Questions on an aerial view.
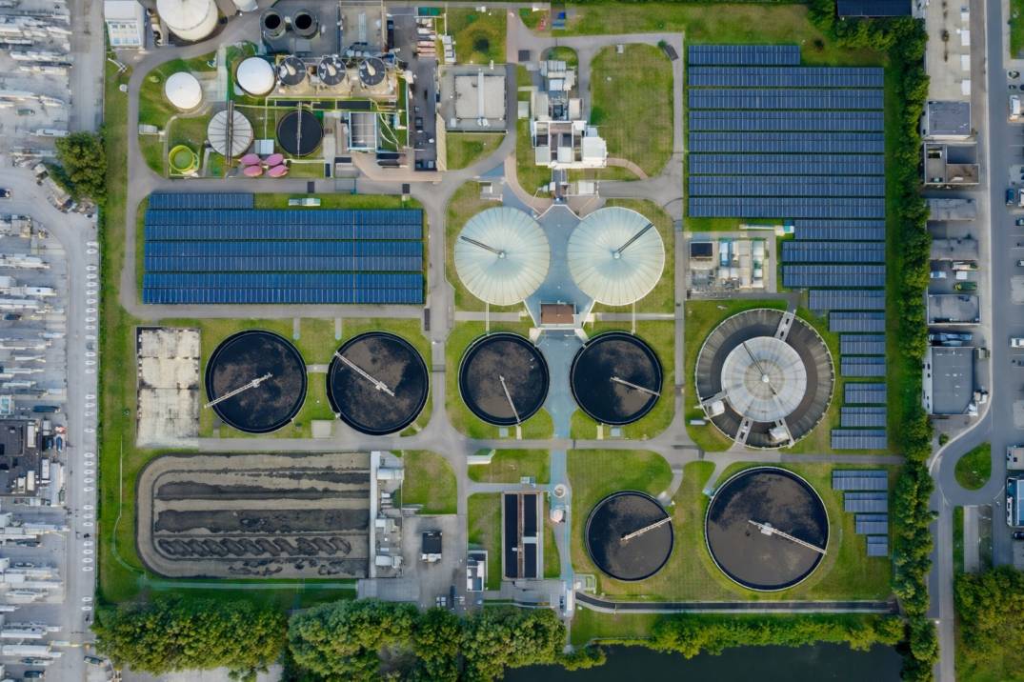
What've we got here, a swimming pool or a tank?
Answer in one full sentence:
The one in the frame is a tank.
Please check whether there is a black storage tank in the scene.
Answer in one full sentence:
Yes, a black storage tank is visible in the scene.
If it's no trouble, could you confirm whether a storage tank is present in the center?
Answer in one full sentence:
Yes, you'll find a storage tank in the center.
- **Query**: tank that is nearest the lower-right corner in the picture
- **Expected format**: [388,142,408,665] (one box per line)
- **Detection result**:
[705,467,830,592]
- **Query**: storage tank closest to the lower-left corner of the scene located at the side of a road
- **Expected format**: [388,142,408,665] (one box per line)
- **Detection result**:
[201,330,308,434]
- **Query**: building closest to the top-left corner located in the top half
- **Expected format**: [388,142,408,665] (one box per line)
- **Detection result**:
[104,0,152,49]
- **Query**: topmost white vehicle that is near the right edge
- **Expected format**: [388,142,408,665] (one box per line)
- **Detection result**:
[1009,96,1021,119]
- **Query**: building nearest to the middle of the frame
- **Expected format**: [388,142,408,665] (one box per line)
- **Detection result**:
[540,301,575,327]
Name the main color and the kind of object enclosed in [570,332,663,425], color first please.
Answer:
black storage tank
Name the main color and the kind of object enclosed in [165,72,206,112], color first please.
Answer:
white storage tank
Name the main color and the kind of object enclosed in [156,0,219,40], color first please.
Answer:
white storage tank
